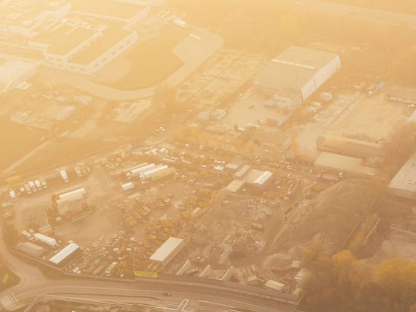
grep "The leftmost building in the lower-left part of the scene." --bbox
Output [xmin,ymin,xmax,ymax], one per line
[19,242,47,259]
